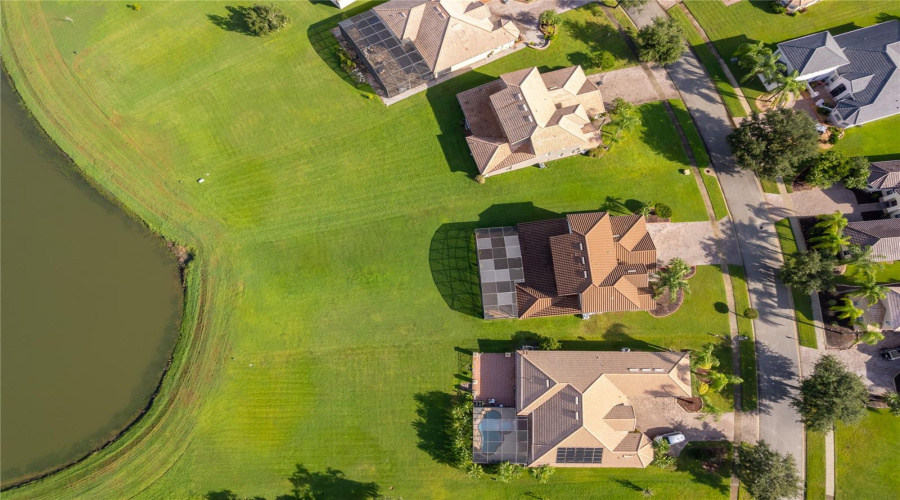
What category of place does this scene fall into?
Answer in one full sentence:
This image shows a residential area.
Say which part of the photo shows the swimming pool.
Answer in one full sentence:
The swimming pool appears toward the bottom of the photo.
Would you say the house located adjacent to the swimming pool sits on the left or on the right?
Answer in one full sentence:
The house located adjacent to the swimming pool sits on the right side.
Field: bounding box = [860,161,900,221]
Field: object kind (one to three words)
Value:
house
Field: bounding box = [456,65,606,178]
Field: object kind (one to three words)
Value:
house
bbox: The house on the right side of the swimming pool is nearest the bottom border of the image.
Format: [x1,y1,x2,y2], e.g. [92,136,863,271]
[516,350,693,467]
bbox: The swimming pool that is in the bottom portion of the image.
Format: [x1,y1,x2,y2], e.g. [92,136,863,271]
[477,409,516,452]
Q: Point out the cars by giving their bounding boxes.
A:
[653,431,686,446]
[879,346,900,360]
